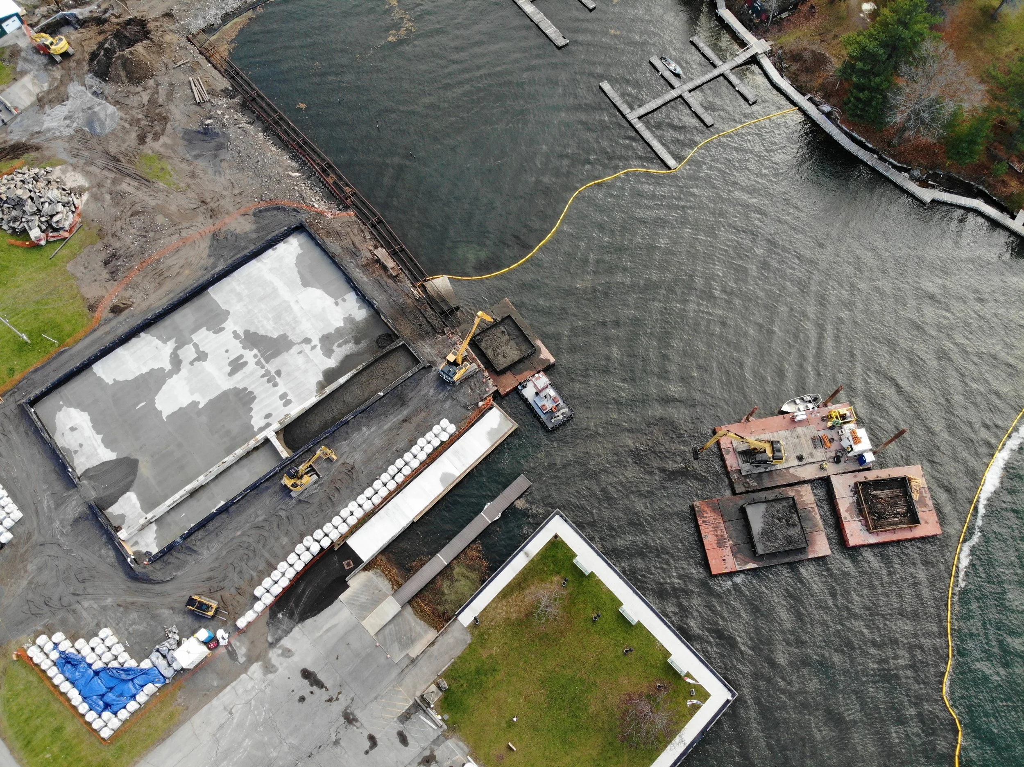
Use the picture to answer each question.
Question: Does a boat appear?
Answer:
Yes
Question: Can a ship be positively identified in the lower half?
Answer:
Yes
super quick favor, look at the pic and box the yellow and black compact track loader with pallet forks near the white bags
[177,592,227,620]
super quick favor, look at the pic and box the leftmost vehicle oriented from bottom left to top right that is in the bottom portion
[276,443,343,498]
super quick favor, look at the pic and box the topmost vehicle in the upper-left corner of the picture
[33,23,77,64]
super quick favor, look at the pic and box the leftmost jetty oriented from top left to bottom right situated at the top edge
[513,0,569,49]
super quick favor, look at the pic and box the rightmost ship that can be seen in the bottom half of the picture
[824,465,941,549]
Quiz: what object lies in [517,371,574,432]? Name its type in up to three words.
boat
